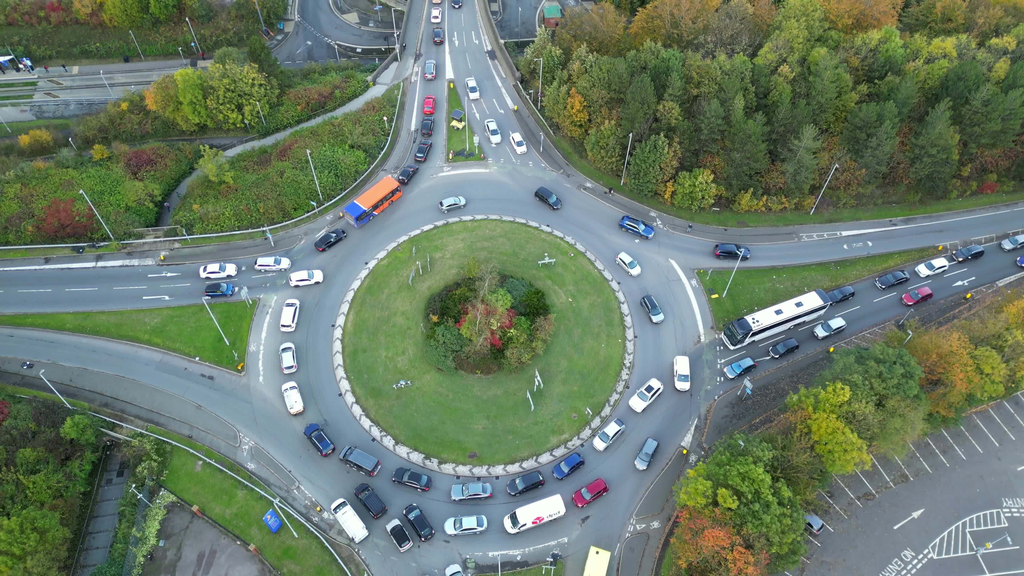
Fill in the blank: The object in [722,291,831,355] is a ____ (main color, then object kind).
white bus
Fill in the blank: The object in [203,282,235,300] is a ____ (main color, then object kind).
blue car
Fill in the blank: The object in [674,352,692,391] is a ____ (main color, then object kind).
white vehicle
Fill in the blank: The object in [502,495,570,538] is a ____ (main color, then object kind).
white van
